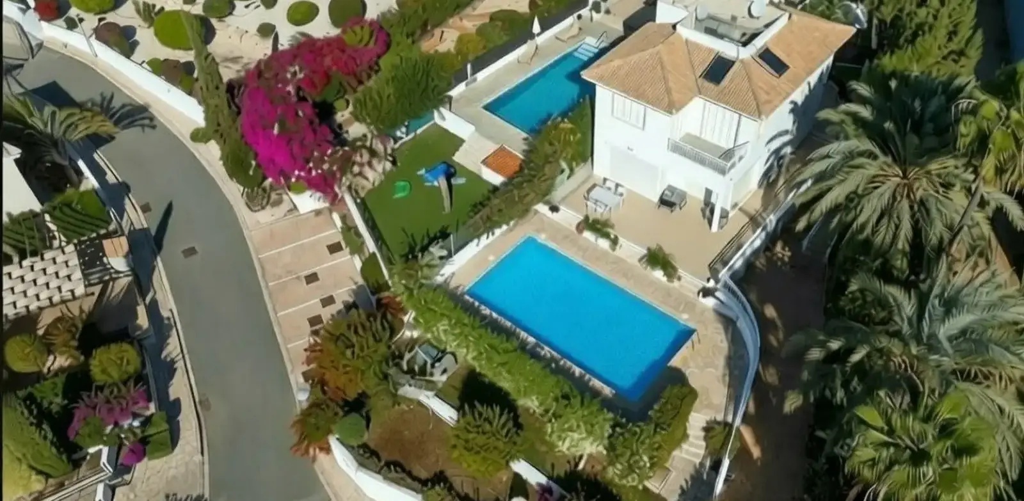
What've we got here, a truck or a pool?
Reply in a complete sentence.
Visible in the photo is a pool.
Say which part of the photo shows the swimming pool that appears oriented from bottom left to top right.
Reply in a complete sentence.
You can find the swimming pool that appears oriented from bottom left to top right in the top area of the picture.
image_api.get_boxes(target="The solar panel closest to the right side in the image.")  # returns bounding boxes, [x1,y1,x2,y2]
[760,48,791,77]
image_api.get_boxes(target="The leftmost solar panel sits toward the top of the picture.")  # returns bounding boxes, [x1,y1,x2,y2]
[699,58,732,88]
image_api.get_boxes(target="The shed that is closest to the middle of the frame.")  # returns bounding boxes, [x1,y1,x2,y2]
[482,139,522,174]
